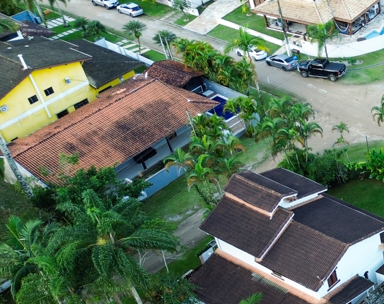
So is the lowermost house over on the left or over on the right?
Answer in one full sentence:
You can find the lowermost house on the right side of the picture.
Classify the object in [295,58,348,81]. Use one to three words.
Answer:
truck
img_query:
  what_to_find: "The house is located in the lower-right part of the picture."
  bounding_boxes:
[189,166,384,304]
